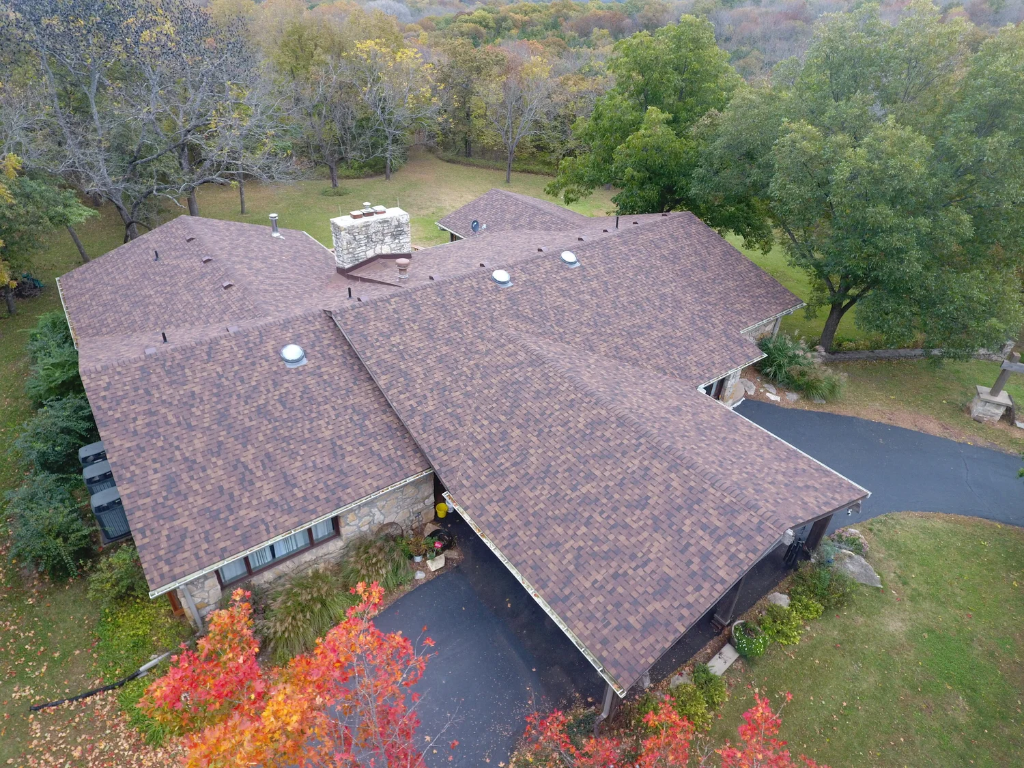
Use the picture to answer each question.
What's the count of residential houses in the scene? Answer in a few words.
1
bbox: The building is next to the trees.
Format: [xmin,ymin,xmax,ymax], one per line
[55,185,874,763]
